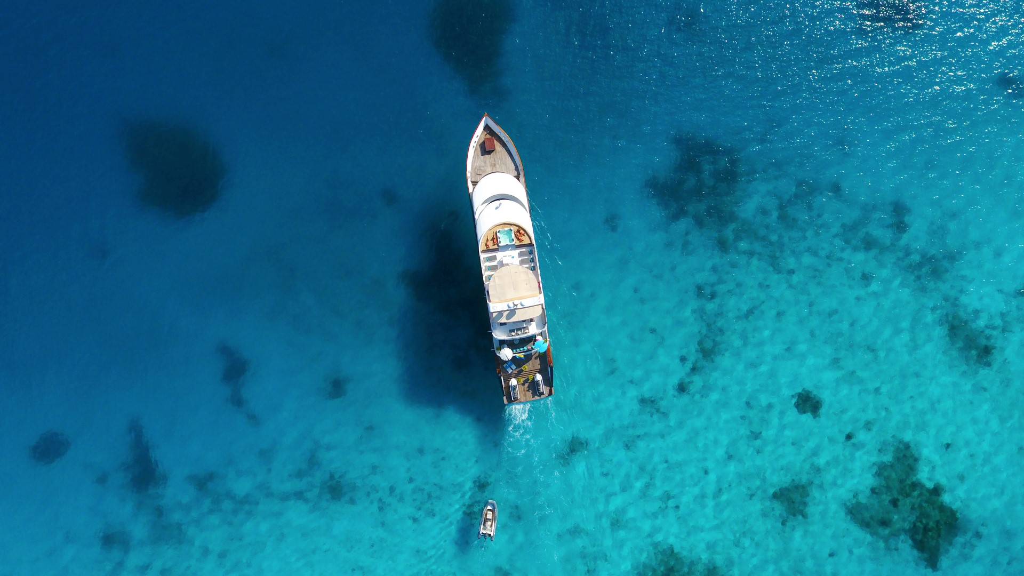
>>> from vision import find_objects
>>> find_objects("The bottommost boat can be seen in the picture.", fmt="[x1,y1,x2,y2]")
[478,500,498,541]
